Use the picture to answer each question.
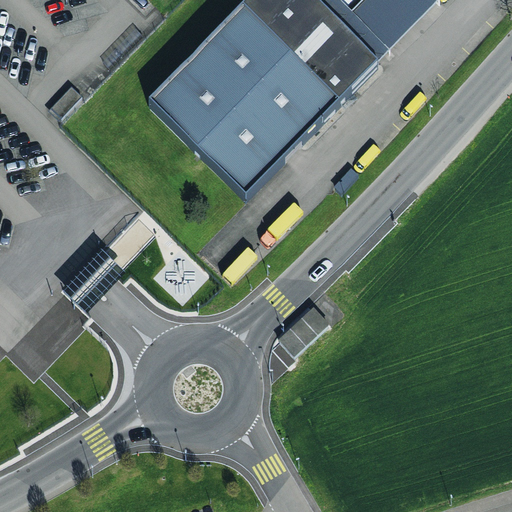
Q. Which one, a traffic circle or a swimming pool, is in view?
traffic circle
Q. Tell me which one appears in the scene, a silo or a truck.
truck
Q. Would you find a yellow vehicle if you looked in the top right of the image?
Yes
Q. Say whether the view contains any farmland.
Yes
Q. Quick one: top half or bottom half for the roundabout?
bottom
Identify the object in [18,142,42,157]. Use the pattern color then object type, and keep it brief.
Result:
black car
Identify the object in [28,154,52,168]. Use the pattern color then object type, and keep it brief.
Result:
white vehicle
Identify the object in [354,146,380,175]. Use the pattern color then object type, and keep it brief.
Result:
yellow vehicle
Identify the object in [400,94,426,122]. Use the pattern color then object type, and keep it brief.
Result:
yellow vehicle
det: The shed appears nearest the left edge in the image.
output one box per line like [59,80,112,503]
[50,87,82,122]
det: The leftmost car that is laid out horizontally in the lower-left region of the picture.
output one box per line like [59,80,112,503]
[128,429,152,442]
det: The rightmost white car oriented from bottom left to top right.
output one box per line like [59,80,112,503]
[310,262,332,282]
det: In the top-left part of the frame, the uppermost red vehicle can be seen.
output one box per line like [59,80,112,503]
[44,0,65,14]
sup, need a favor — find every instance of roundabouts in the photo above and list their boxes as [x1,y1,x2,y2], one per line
[132,324,262,453]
